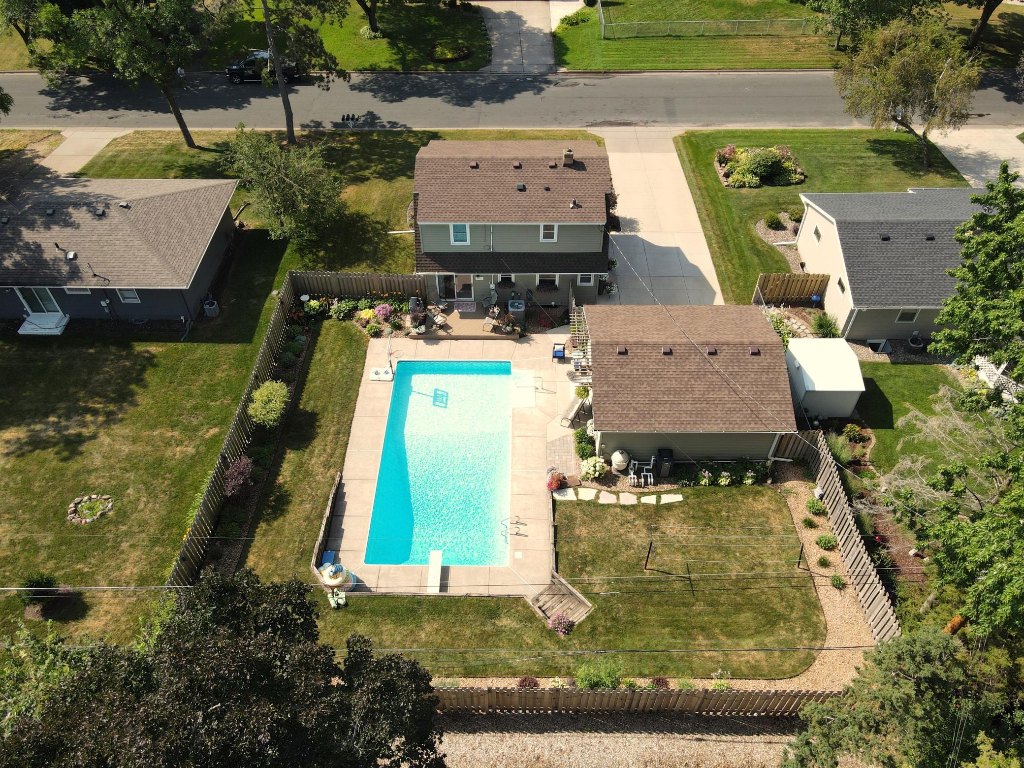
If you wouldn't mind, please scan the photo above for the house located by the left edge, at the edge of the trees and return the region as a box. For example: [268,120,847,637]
[0,178,244,340]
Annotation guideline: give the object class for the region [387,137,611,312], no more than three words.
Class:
house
